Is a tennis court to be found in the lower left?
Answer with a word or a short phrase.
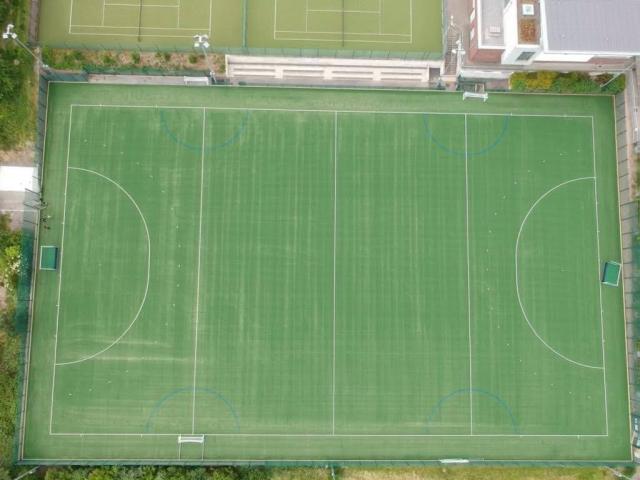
No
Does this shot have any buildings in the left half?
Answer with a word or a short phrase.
No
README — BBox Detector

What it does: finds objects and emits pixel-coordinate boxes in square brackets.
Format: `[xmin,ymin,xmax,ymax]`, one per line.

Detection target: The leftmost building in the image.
[469,0,506,61]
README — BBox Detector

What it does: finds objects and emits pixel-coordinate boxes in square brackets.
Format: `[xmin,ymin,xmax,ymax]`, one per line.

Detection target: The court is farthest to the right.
[244,0,441,59]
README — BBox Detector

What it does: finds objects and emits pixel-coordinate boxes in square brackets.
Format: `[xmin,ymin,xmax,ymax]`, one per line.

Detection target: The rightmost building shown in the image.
[532,0,640,64]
